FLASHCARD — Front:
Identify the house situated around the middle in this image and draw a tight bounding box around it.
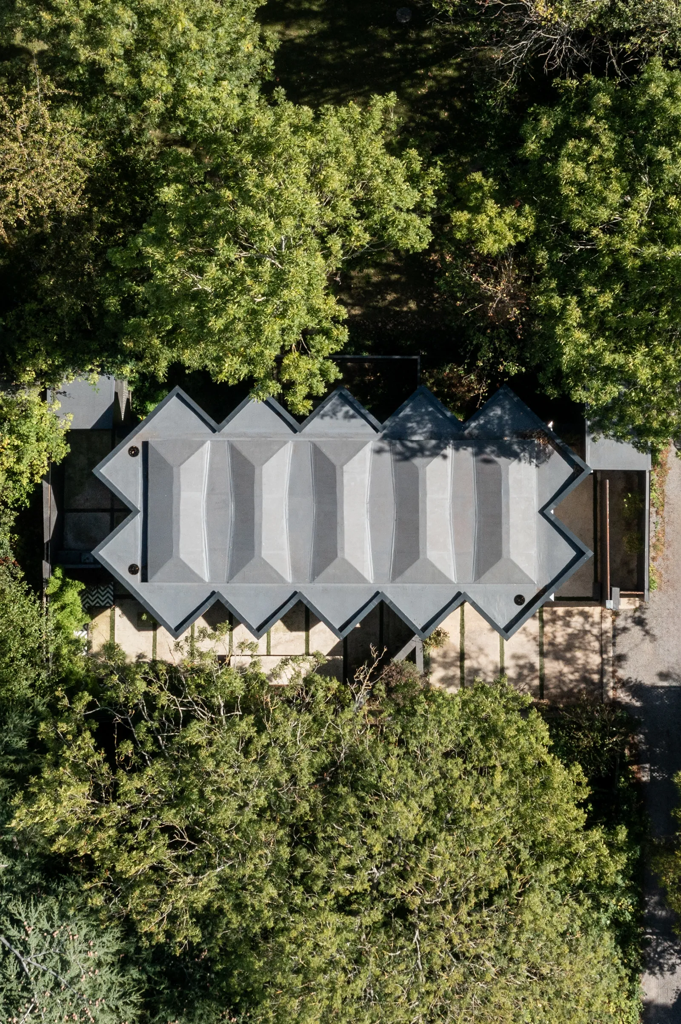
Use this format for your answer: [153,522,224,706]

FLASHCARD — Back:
[91,385,593,640]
